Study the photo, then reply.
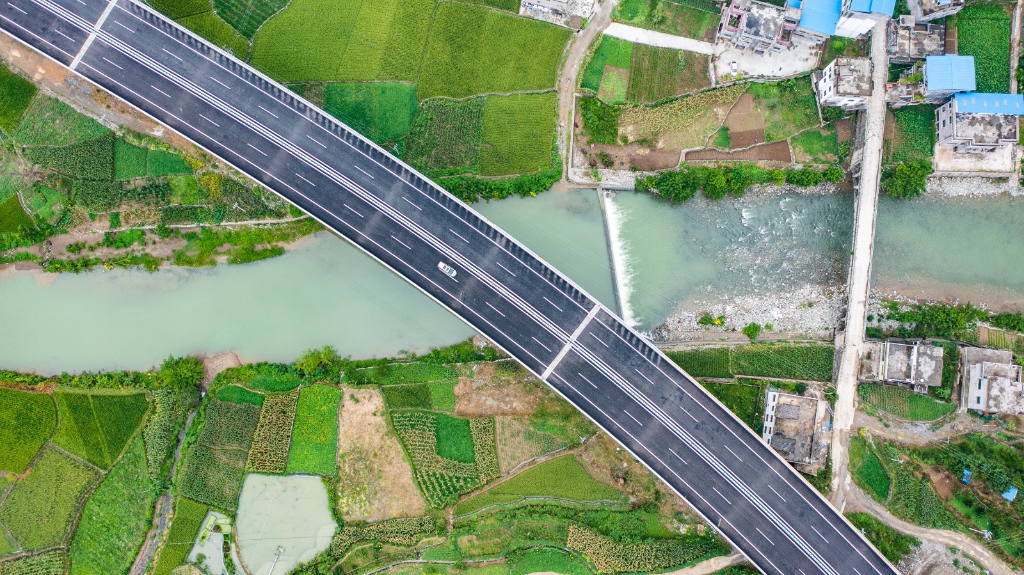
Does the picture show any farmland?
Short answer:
Yes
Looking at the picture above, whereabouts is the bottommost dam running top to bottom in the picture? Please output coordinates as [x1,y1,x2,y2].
[600,189,632,327]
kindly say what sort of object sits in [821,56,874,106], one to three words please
house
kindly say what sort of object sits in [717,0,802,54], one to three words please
house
